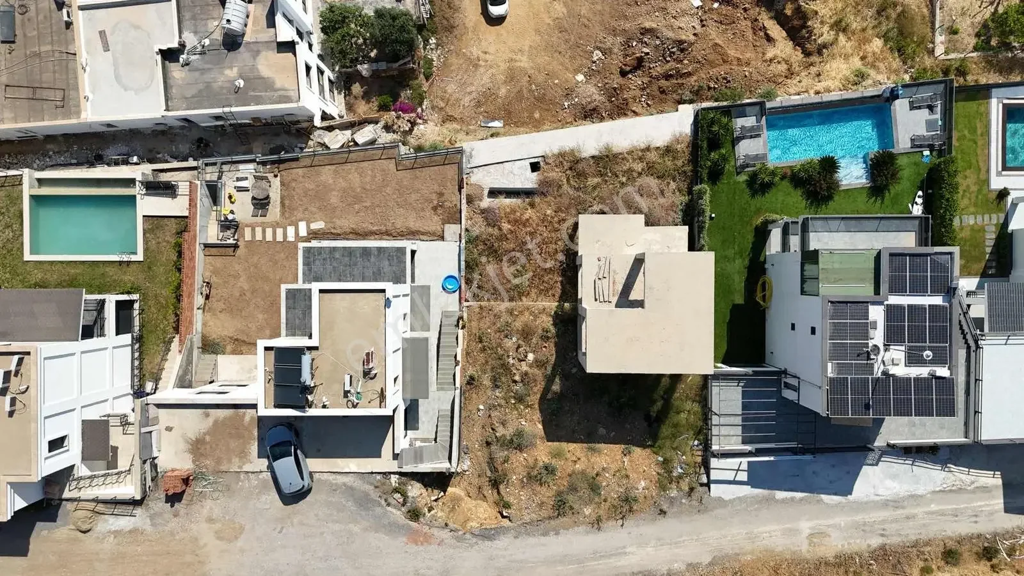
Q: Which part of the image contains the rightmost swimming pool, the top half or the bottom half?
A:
top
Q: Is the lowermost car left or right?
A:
left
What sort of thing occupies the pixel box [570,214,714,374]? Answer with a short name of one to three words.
house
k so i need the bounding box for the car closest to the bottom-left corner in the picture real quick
[266,419,316,500]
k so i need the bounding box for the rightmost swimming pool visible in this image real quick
[985,90,1024,205]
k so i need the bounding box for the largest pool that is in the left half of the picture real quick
[24,169,192,261]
